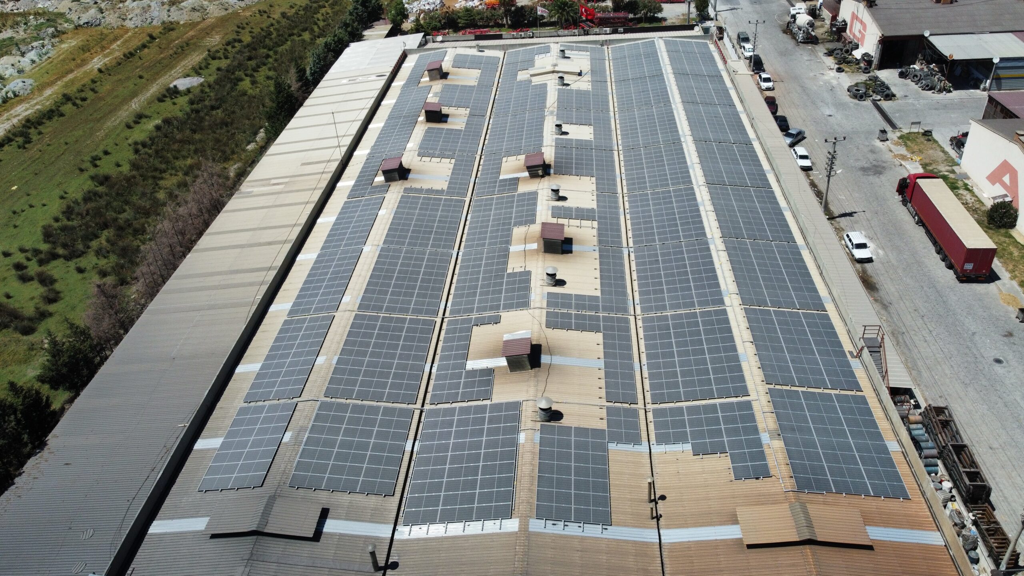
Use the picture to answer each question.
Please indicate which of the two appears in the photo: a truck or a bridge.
truck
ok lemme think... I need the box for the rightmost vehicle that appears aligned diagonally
[894,173,997,281]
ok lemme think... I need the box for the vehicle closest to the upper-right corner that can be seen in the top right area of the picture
[942,130,969,147]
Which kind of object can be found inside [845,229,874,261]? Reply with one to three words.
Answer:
car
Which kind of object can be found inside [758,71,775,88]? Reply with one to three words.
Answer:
car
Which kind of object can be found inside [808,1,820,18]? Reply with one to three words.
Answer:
vehicle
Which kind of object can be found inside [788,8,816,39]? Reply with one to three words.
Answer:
truck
